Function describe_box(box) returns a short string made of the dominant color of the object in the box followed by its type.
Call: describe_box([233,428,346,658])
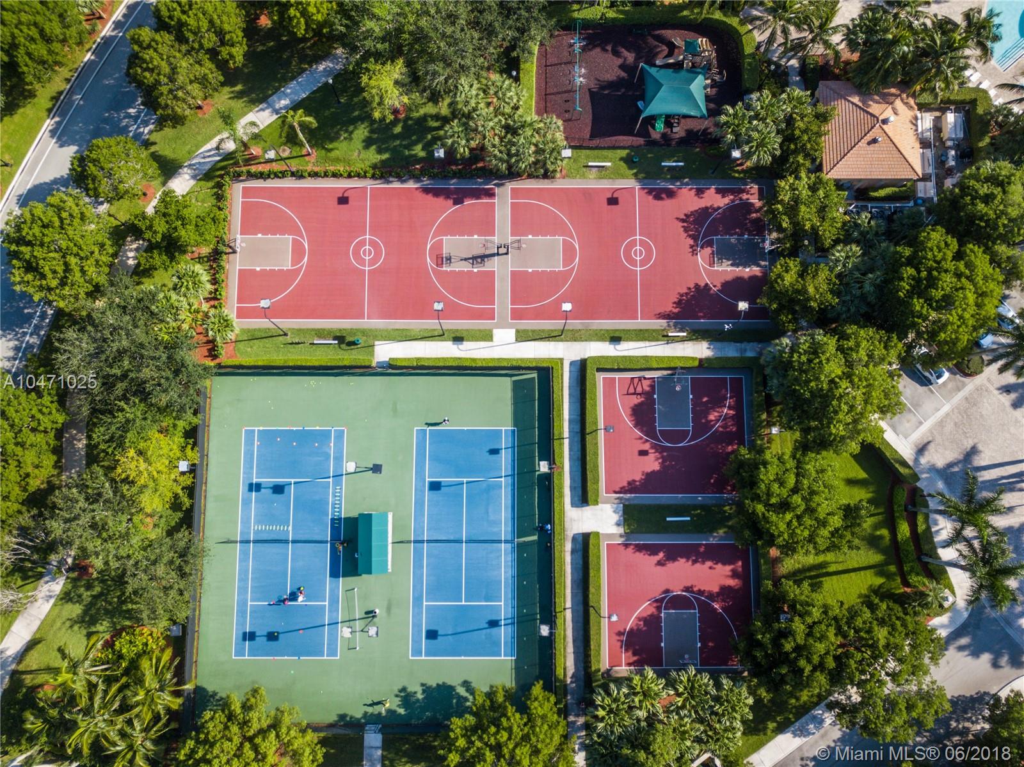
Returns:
blue tennis court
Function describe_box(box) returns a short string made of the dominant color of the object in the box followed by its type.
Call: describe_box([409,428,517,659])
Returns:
blue tennis court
